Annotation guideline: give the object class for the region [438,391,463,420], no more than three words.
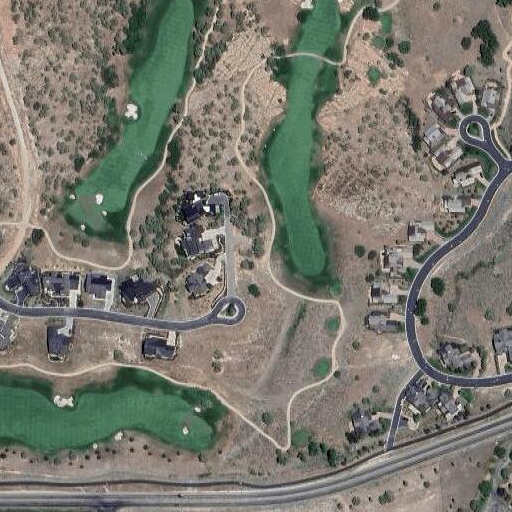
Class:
house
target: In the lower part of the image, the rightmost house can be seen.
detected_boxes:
[492,329,512,363]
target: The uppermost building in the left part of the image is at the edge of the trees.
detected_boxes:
[181,190,215,225]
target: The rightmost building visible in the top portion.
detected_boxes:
[482,89,500,108]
